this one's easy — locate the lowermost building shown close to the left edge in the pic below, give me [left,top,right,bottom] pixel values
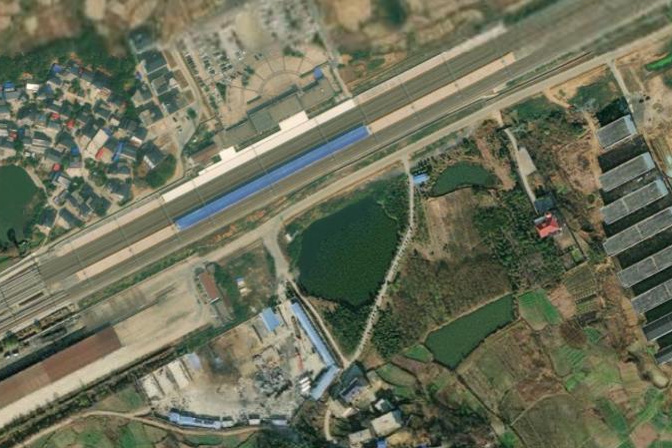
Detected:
[0,323,122,408]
